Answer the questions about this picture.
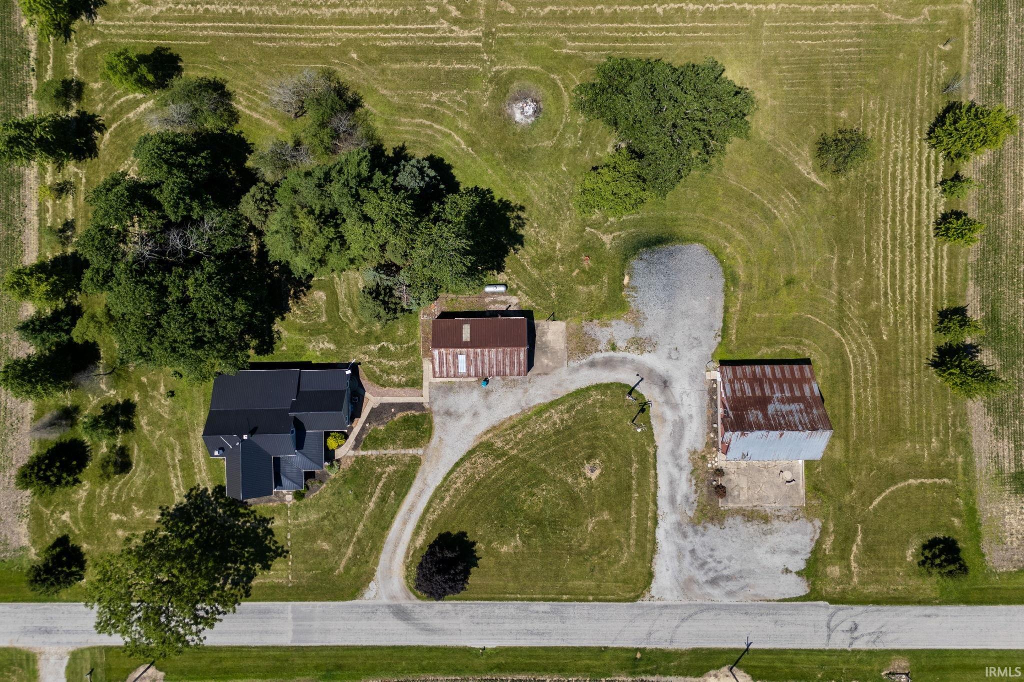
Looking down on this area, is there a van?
No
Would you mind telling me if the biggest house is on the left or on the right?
left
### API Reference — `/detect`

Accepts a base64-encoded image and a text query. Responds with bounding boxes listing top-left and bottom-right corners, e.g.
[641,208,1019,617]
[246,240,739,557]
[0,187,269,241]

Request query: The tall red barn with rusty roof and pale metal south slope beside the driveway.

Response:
[718,363,833,461]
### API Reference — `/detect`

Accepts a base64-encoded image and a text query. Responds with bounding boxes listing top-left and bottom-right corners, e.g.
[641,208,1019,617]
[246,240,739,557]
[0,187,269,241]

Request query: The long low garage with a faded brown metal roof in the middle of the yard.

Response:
[430,315,529,378]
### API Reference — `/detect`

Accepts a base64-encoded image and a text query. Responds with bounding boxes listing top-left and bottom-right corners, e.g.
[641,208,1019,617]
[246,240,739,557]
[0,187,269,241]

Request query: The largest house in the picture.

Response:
[202,357,359,501]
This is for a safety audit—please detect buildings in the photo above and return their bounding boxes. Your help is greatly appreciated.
[718,363,833,461]
[202,357,359,501]
[430,315,529,378]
